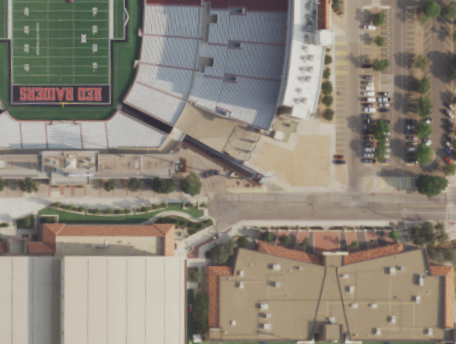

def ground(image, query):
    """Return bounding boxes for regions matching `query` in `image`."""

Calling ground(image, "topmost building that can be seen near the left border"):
[0,151,172,185]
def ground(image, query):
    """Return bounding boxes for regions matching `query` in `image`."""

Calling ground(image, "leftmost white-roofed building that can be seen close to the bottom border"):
[0,254,186,344]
